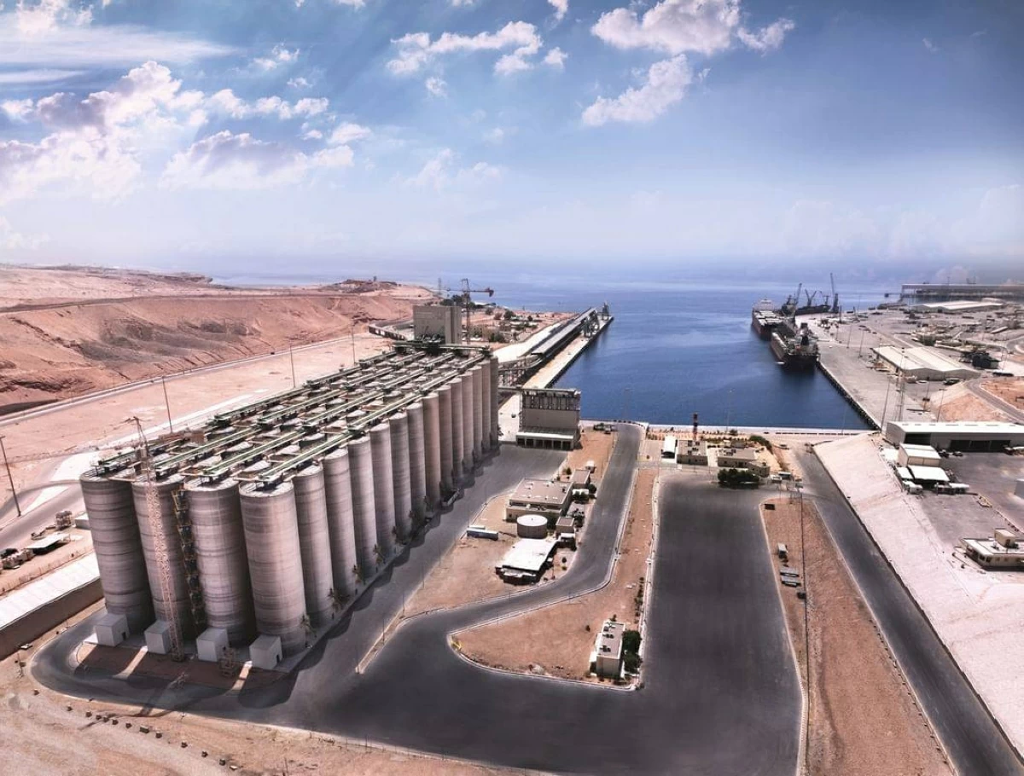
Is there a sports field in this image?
No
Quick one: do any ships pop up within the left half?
No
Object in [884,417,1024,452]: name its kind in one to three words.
building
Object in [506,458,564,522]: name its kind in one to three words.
building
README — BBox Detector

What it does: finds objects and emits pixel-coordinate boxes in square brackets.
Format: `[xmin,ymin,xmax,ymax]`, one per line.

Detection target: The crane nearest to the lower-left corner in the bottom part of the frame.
[102,417,189,664]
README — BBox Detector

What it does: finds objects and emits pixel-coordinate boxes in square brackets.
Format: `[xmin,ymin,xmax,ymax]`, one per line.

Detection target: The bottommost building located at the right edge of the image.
[964,528,1024,570]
